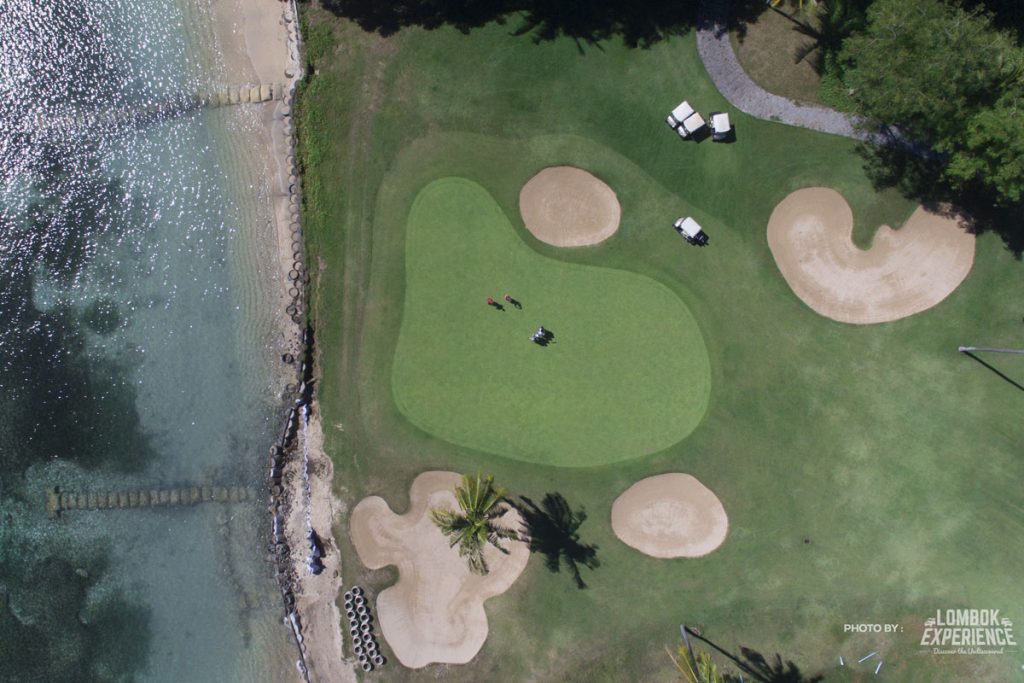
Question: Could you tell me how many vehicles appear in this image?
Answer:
4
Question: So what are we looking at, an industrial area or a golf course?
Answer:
golf course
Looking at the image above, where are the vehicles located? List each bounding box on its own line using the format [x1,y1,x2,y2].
[707,113,730,143]
[675,112,705,142]
[672,216,704,243]
[664,101,694,131]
